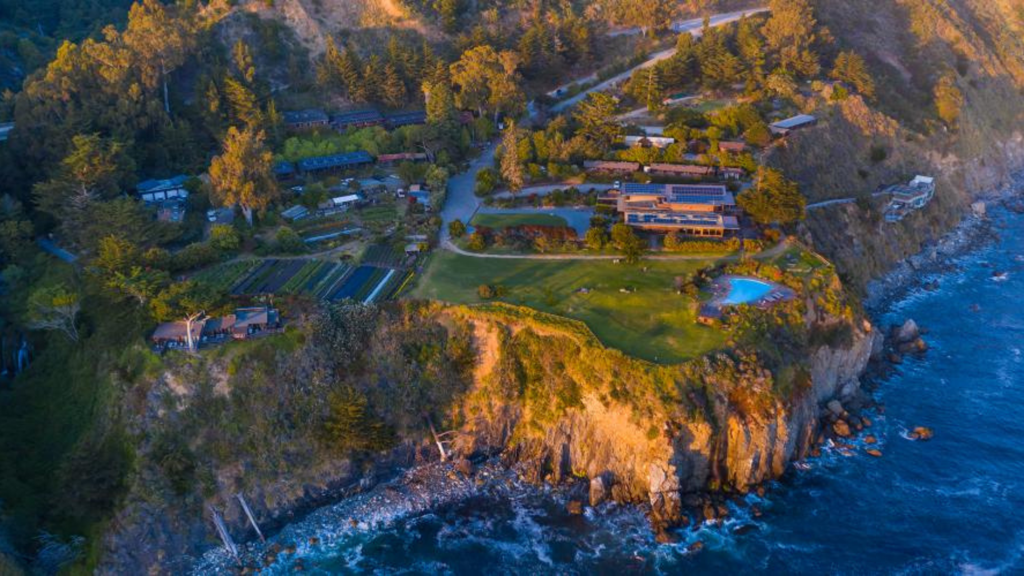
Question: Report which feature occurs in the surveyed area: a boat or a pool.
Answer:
pool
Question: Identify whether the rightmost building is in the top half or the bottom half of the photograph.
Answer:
top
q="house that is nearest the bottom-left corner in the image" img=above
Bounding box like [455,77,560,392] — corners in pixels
[150,299,283,358]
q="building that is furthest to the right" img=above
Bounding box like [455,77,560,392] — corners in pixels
[881,175,937,228]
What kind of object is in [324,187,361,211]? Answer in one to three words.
greenhouse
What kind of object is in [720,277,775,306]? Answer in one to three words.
swimming pool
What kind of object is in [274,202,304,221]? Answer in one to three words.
greenhouse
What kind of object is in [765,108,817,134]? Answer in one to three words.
house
